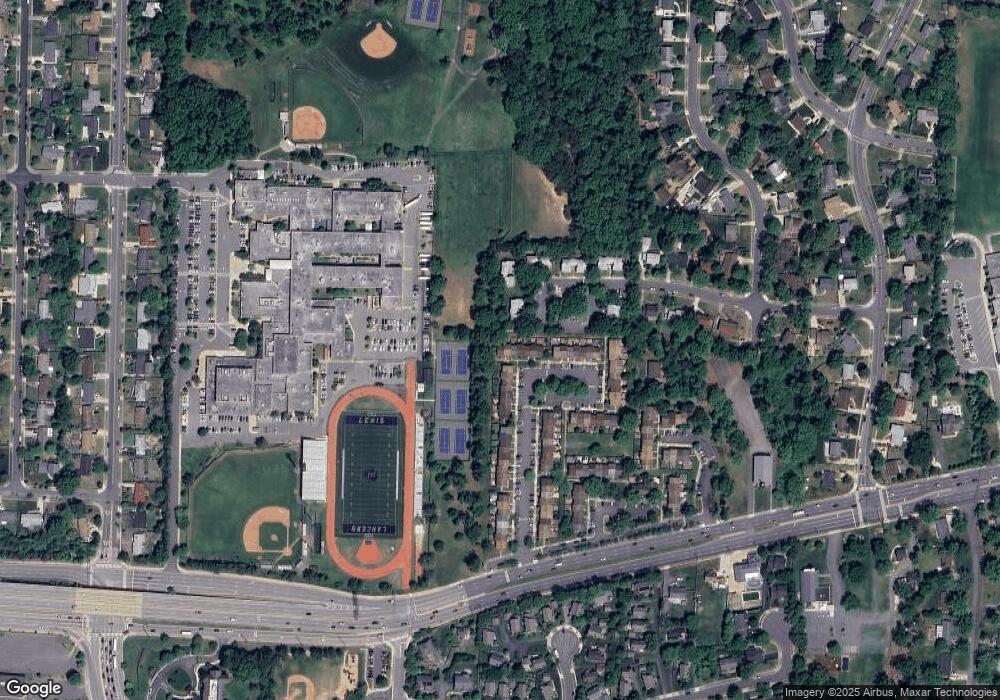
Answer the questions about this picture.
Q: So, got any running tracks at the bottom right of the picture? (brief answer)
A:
No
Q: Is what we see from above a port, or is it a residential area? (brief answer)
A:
residential area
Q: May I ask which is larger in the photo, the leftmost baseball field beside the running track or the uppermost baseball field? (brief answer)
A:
the leftmost baseball field beside the running track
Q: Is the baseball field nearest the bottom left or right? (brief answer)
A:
left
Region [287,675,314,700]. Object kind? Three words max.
baseball field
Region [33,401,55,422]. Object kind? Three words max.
house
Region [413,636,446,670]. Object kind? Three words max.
house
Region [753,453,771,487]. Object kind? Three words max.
building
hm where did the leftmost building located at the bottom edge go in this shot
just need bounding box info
[195,668,228,700]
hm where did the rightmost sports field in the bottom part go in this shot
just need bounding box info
[337,409,404,538]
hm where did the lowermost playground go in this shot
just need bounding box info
[338,653,359,700]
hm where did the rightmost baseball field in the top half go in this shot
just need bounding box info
[360,22,396,59]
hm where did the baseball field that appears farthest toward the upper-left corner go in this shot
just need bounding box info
[293,106,326,140]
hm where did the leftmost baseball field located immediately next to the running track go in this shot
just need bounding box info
[243,506,300,562]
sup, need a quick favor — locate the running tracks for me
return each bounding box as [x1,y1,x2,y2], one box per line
[327,361,425,590]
